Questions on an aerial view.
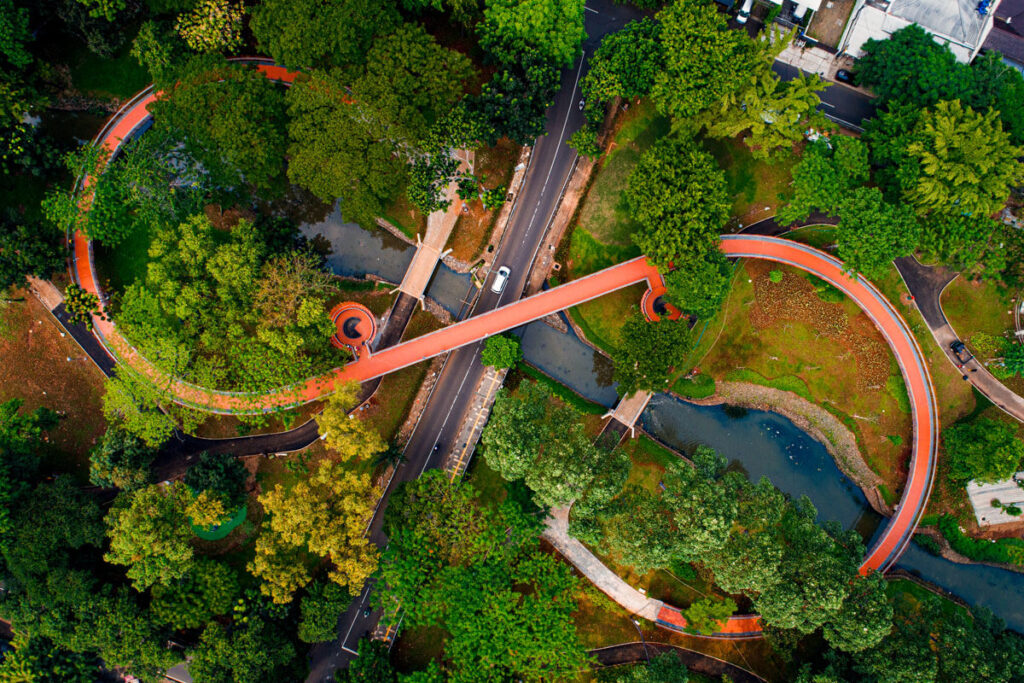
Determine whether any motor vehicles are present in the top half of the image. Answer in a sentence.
Yes, the scene does show a motor vehicle in the top half of the image.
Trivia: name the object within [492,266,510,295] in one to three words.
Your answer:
car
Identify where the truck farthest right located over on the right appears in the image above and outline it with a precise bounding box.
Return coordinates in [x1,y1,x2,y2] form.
[949,339,974,366]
